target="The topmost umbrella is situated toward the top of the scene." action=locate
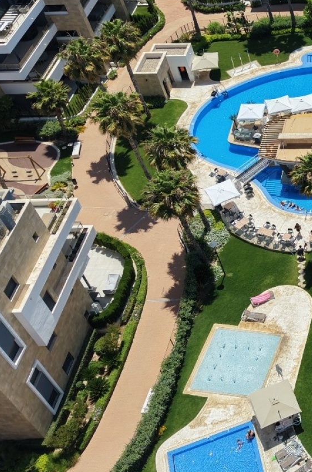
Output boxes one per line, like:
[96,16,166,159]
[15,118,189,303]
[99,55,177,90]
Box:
[190,50,231,77]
